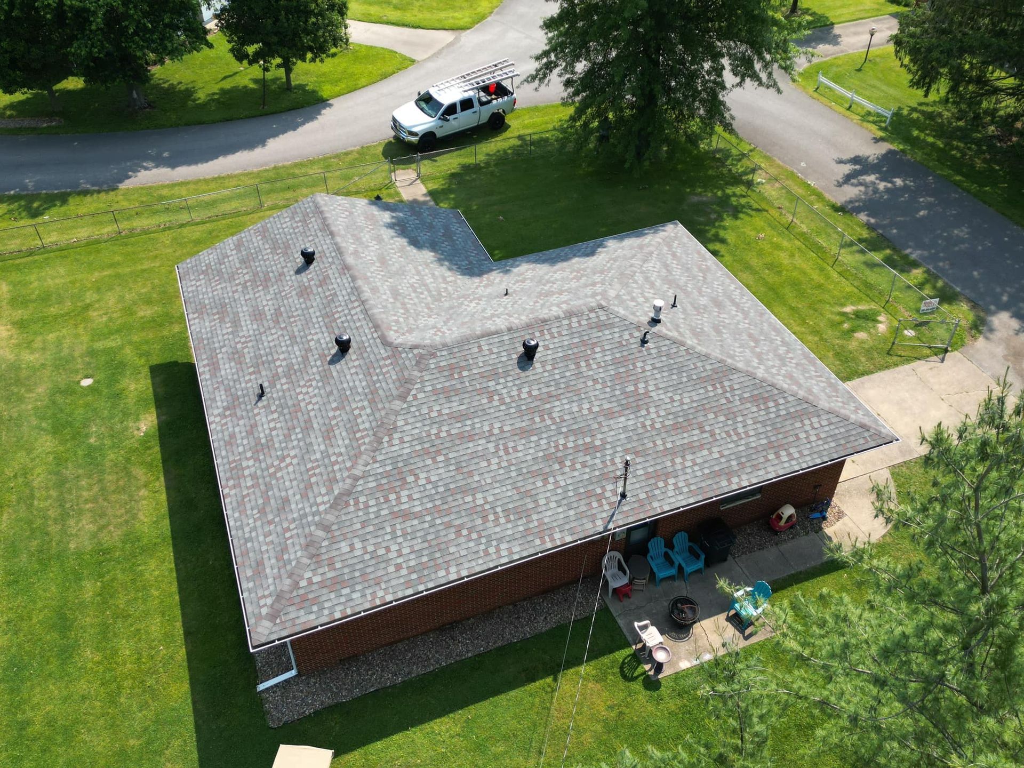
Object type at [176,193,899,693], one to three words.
house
